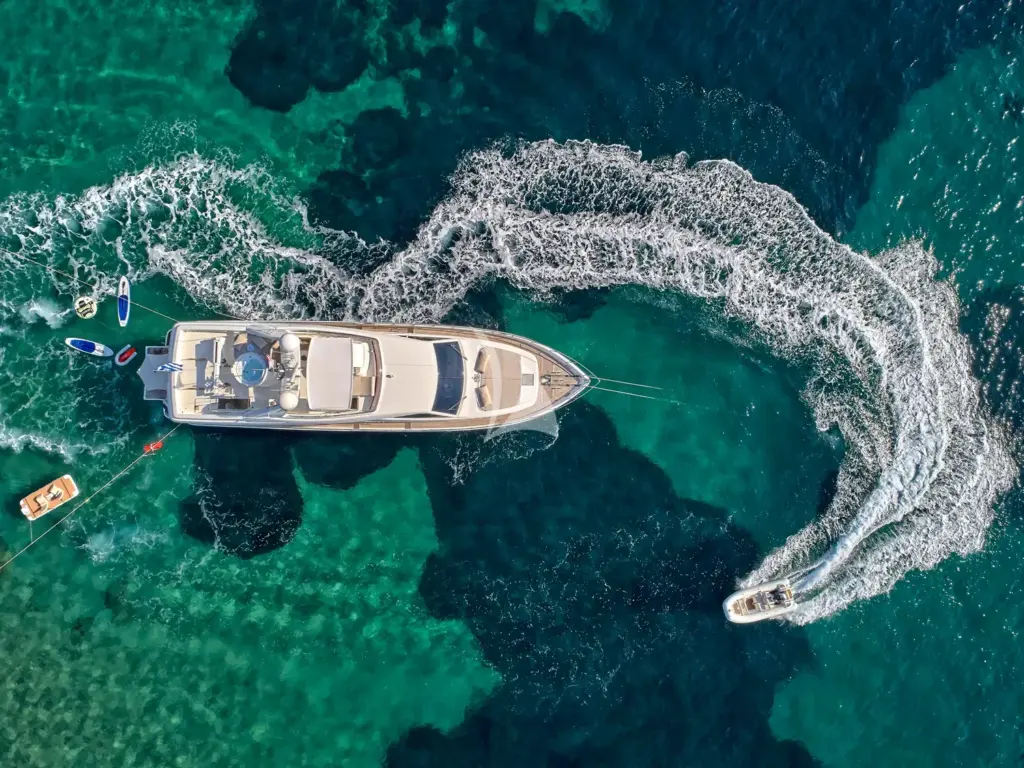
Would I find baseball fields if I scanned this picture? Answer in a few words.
No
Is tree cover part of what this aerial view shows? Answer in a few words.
No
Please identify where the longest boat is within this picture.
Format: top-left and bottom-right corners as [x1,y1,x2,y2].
[136,321,600,432]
